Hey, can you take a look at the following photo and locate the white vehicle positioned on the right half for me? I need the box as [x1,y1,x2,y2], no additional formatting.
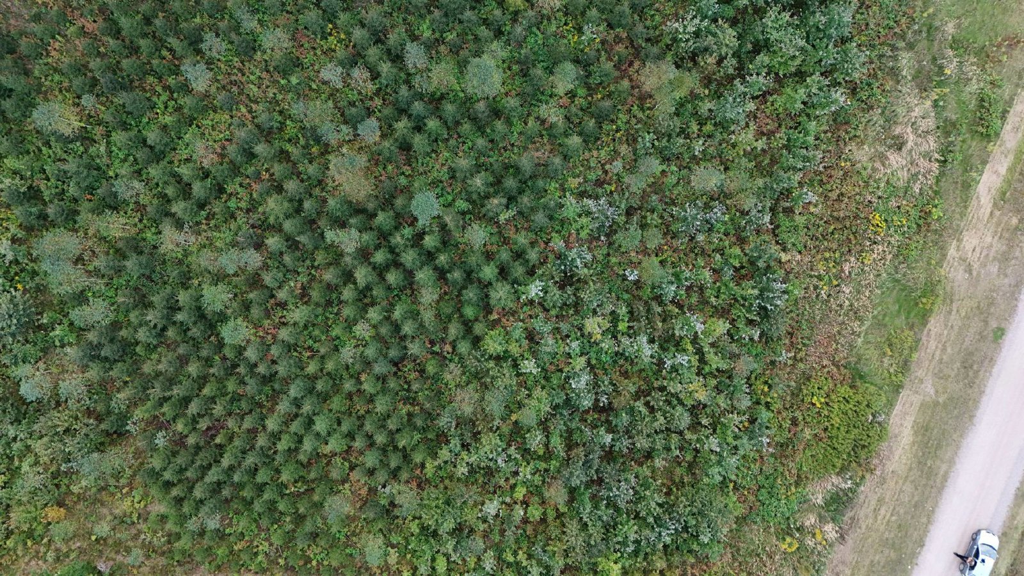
[960,528,1002,576]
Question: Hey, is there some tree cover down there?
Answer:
Yes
